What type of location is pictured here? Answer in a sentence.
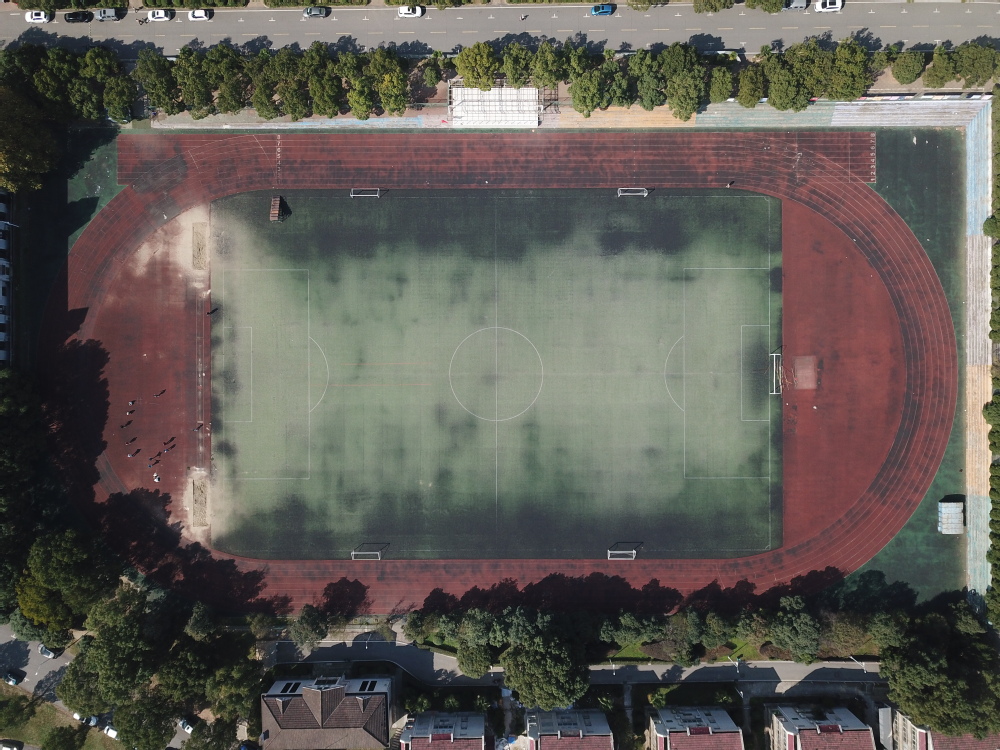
The area seen from above is a sports ground.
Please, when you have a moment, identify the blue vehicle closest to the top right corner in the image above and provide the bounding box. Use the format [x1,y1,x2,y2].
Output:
[592,1,613,15]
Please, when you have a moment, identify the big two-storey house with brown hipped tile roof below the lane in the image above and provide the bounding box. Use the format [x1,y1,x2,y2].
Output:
[262,659,394,750]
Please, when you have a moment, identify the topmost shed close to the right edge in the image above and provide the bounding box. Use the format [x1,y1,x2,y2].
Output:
[933,501,962,533]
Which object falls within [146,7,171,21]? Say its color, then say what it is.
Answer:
white vehicle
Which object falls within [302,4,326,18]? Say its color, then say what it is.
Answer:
gray vehicle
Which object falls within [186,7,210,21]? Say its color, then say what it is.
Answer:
white vehicle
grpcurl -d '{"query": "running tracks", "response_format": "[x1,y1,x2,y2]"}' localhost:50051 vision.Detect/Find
[42,133,958,612]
